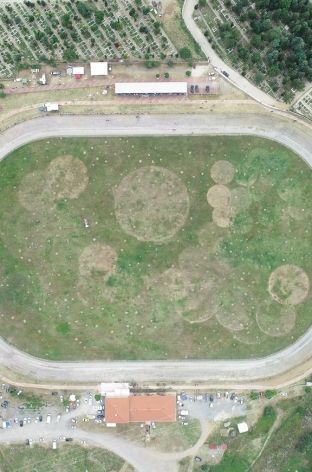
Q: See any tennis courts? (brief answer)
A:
No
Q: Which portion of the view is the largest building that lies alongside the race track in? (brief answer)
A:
bottom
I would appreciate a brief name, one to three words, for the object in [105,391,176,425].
building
